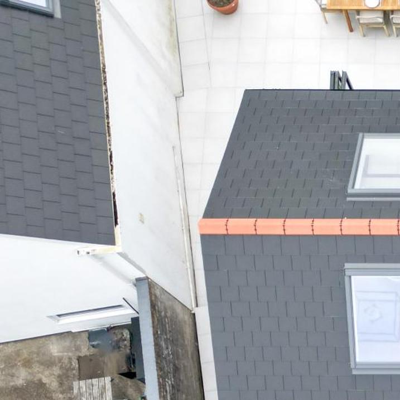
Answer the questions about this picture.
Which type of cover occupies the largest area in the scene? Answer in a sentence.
The scene is dominated by buildings.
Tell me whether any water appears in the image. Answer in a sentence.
No, the picture contains no water.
